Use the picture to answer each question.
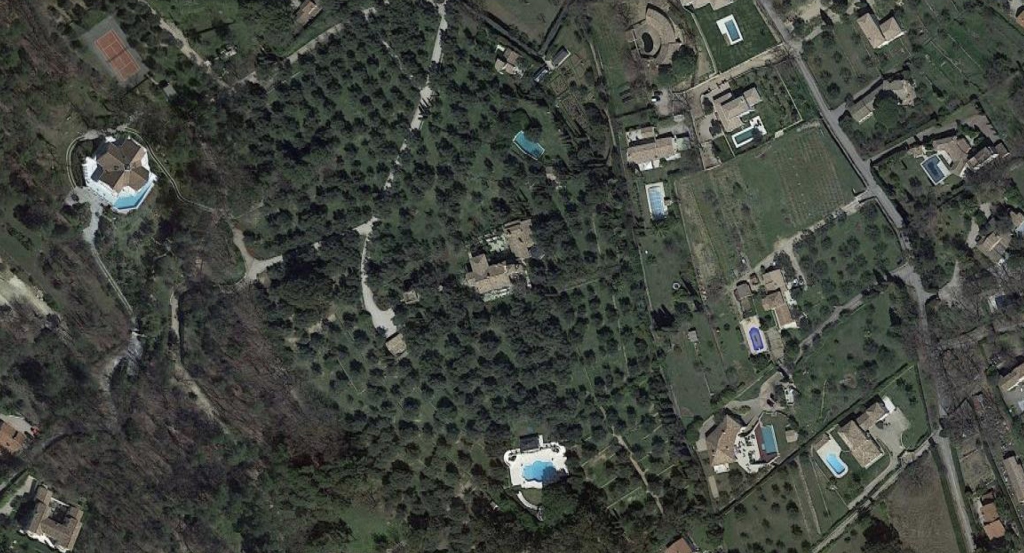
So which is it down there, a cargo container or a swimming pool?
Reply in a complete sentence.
Visible in the photo is a swimming pool.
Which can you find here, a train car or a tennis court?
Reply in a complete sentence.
The one in the frame is a tennis court.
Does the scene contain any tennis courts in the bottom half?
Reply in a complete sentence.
No, there is no tennis court in the bottom half.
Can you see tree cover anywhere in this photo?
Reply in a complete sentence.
Yes, the picture does contain tree cover.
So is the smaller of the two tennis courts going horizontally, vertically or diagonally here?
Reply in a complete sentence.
Seen from above, the smaller of the two tennis courts lies diagonally.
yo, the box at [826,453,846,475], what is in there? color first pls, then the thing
blue swimming pool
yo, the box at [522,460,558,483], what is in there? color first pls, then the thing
blue swimming pool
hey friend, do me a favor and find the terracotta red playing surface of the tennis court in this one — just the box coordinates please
[96,31,140,80]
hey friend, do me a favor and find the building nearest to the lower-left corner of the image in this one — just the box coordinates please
[29,486,83,553]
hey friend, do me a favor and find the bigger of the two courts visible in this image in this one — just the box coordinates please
[80,12,150,88]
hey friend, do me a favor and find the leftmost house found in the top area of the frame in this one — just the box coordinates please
[97,139,149,194]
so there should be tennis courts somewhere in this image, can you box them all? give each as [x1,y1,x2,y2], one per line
[80,12,150,88]
[96,31,140,80]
